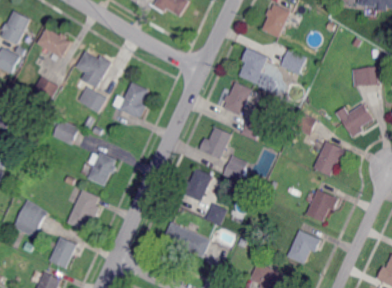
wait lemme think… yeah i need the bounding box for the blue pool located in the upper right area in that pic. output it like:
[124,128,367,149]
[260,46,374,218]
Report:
[306,31,324,49]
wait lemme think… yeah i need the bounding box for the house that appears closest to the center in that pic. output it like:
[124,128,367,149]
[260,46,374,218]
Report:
[200,126,232,159]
